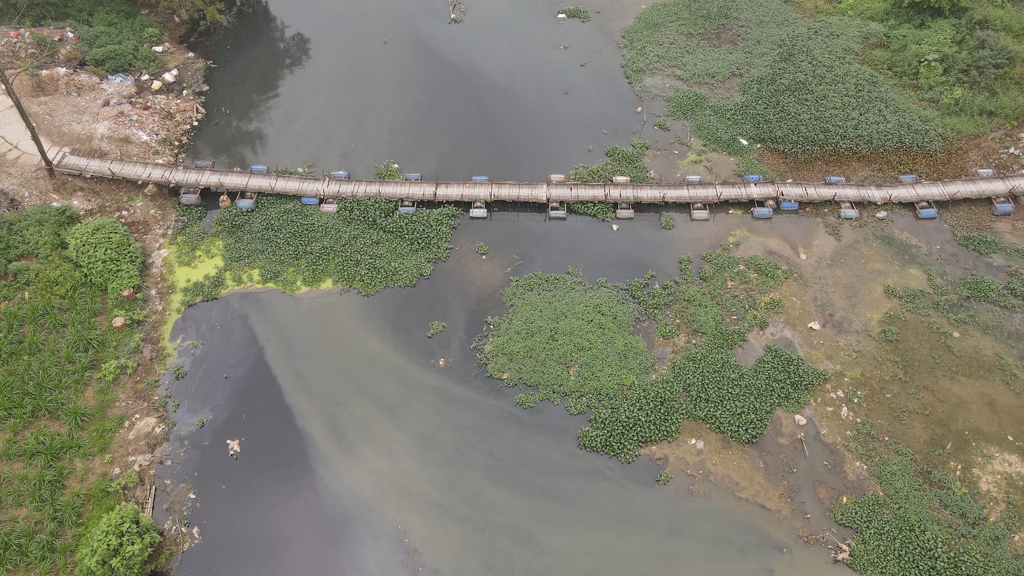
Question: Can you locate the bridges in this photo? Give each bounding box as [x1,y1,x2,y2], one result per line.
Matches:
[53,147,1024,221]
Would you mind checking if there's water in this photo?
Yes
